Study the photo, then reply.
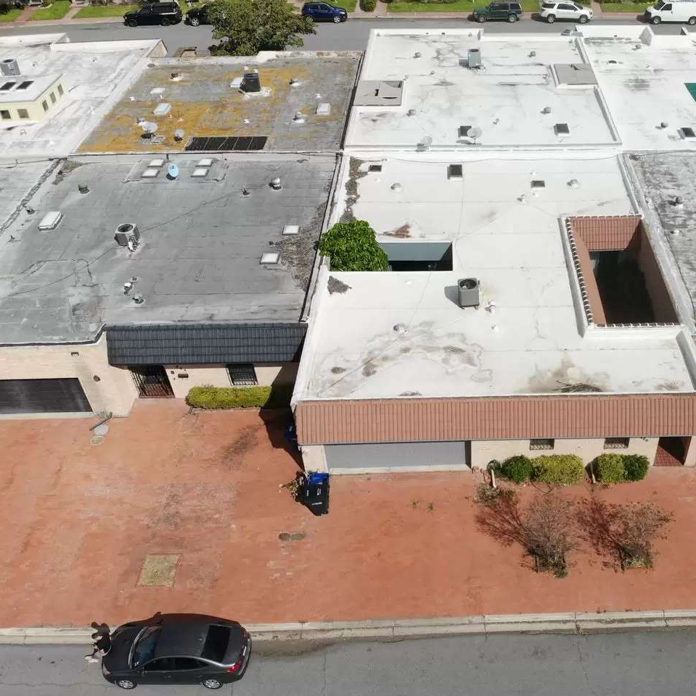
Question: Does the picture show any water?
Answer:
No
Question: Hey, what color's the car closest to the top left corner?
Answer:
black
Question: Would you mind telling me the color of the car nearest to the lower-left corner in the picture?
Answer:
black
